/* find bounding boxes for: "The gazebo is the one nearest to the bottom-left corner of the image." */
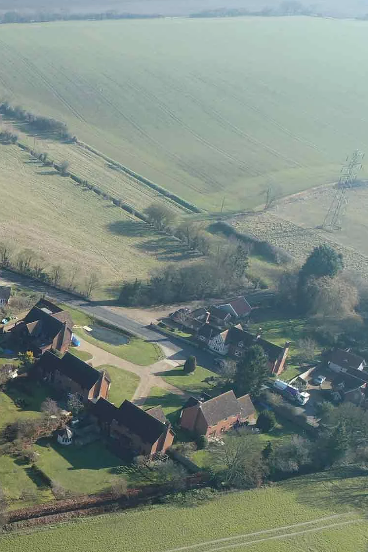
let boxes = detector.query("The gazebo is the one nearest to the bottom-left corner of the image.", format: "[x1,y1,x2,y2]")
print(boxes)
[58,427,75,447]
